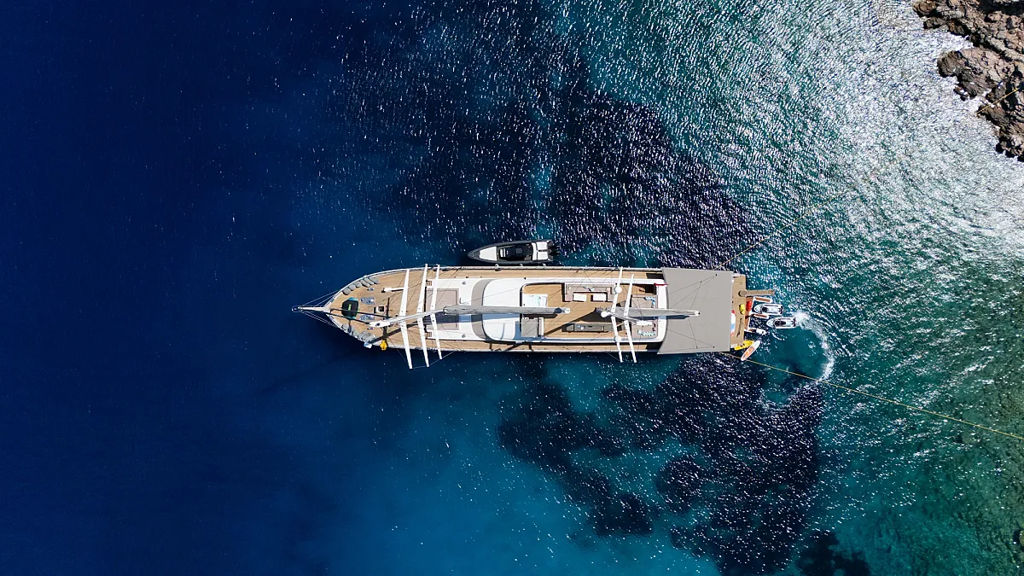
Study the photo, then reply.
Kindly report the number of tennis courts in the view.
0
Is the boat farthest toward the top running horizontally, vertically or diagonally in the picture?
horizontally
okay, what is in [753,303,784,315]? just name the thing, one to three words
boat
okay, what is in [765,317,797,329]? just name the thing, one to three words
boat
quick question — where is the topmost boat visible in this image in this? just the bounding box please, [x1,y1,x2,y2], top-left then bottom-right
[467,240,557,264]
